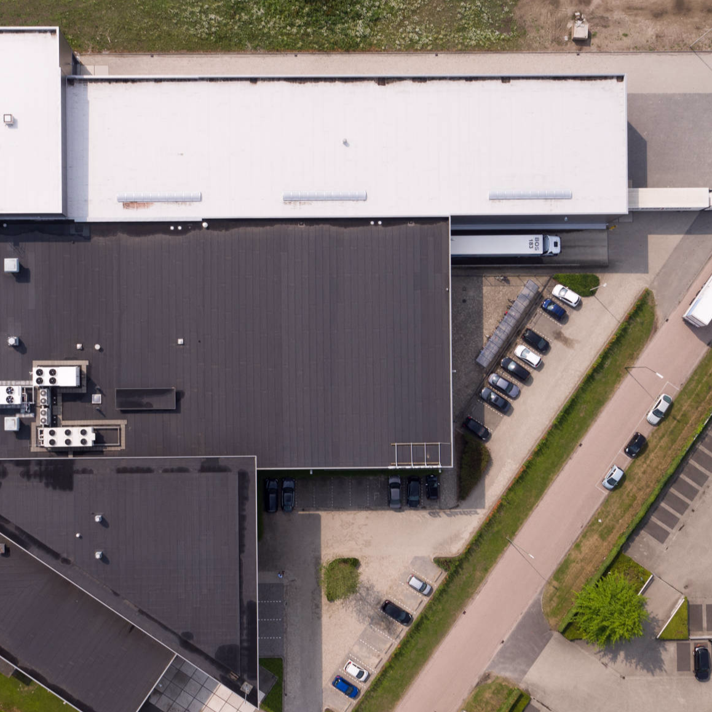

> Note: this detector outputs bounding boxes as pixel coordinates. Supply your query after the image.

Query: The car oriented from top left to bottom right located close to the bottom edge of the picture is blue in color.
[330,676,360,699]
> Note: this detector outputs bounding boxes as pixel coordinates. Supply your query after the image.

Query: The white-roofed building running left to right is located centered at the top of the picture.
[64,74,629,231]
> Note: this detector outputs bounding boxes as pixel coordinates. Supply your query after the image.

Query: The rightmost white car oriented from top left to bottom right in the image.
[551,284,584,310]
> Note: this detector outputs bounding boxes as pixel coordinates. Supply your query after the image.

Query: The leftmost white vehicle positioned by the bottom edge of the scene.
[342,660,370,682]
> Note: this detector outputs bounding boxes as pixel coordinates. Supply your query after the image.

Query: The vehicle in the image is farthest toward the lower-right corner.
[694,647,712,680]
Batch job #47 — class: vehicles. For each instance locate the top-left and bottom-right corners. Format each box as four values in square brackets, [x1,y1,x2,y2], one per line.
[381,600,413,626]
[539,298,570,321]
[406,574,432,597]
[647,394,674,425]
[406,477,422,509]
[628,188,712,212]
[489,374,521,399]
[520,329,550,353]
[501,358,532,382]
[425,476,439,500]
[462,416,492,440]
[387,476,402,509]
[342,660,370,682]
[602,464,624,490]
[512,345,544,369]
[551,284,584,310]
[694,647,712,680]
[450,237,560,259]
[330,676,360,699]
[479,387,511,413]
[624,431,648,458]
[683,273,712,327]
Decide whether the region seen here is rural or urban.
urban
